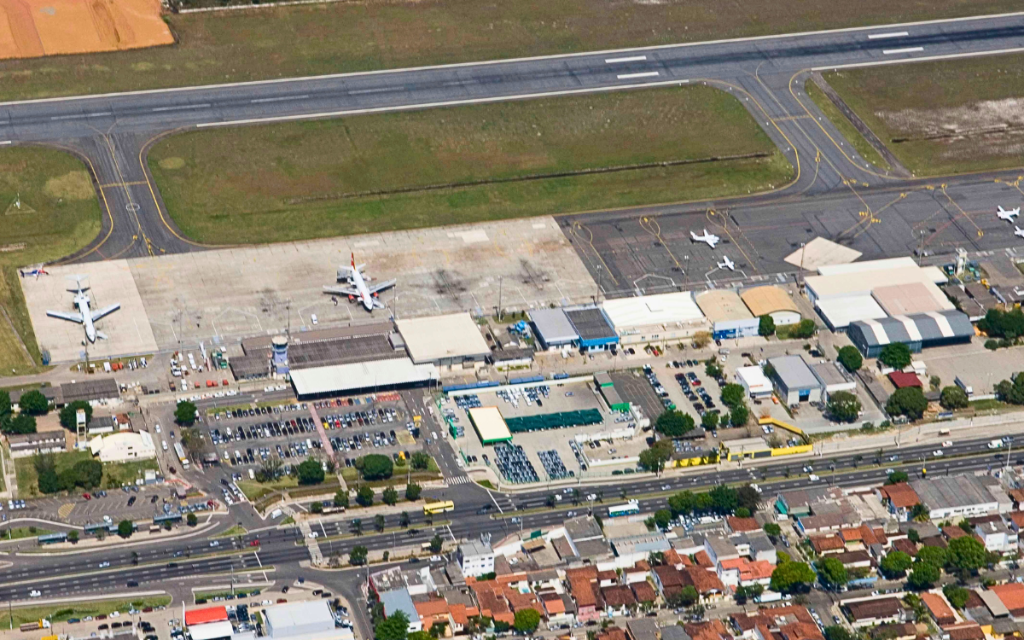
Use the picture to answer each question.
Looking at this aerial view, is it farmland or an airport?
airport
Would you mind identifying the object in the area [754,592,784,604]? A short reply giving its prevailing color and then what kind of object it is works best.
white vehicle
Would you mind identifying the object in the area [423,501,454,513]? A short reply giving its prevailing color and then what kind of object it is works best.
yellow vehicle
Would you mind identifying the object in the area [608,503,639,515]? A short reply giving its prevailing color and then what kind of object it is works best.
white vehicle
